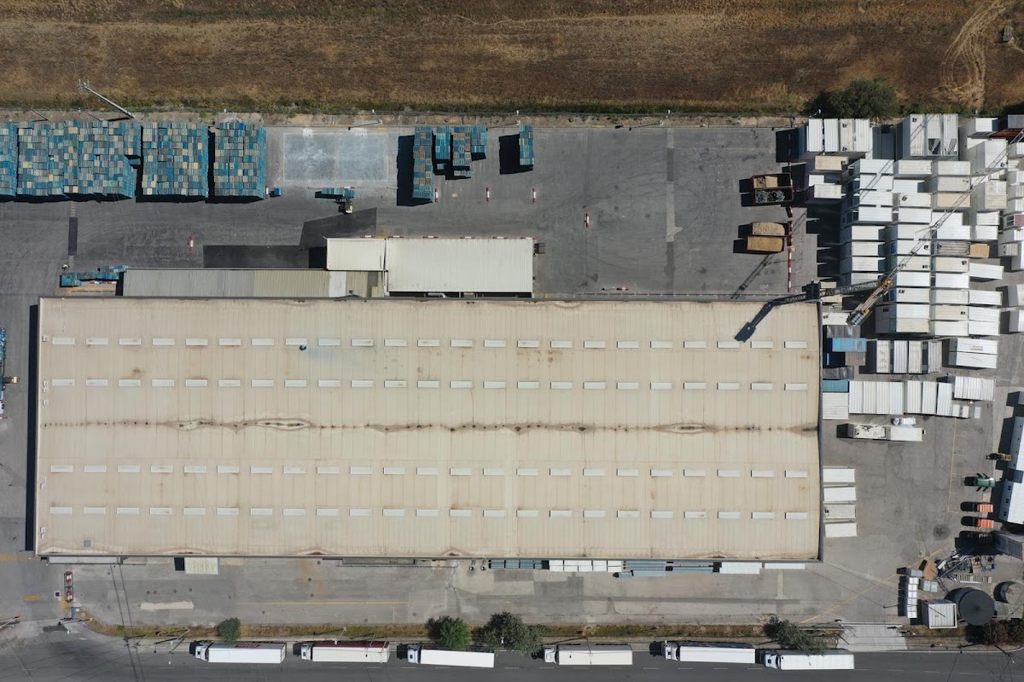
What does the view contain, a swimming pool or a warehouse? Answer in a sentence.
Of the two, only a warehouse appears.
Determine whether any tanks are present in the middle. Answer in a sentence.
No, there's no tank to be seen in the middle.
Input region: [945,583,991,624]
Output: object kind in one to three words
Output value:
storage tank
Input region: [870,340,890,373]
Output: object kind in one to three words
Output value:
building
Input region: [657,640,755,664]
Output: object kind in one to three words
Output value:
truck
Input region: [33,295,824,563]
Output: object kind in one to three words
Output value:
warehouse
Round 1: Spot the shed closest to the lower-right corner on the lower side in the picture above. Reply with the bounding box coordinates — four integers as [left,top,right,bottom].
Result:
[994,532,1024,563]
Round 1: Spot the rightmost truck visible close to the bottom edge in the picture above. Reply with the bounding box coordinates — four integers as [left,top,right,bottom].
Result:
[756,648,854,670]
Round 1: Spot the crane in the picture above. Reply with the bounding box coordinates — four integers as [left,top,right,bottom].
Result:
[809,126,1024,338]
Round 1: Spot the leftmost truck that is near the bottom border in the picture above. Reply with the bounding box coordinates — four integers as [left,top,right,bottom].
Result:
[196,642,286,664]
